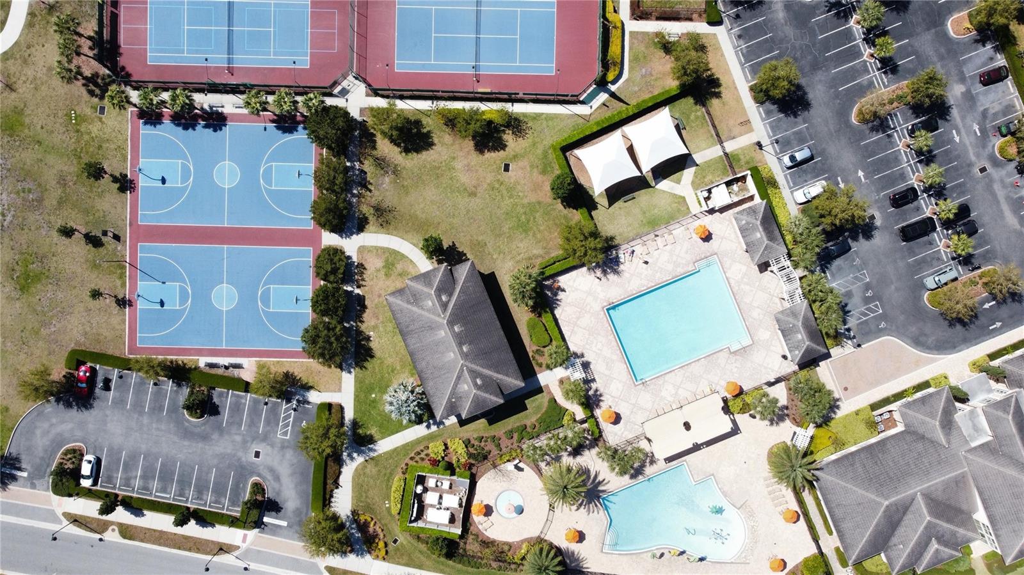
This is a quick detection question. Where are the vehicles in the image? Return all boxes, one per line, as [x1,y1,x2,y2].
[934,203,974,227]
[975,65,1010,87]
[885,187,918,208]
[816,235,852,259]
[943,218,978,240]
[100,375,111,391]
[74,363,94,396]
[903,115,939,138]
[969,265,983,272]
[779,146,814,169]
[82,454,100,486]
[896,216,935,241]
[792,179,828,203]
[921,264,960,288]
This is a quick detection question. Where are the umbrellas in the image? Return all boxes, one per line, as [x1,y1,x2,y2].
[782,507,798,523]
[564,526,580,543]
[470,501,485,517]
[693,222,709,238]
[723,379,739,395]
[600,409,615,424]
[769,555,785,572]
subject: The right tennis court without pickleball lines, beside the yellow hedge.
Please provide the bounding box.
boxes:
[358,0,600,98]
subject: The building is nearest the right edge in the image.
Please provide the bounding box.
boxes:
[808,348,1024,575]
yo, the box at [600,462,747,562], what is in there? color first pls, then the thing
white swimming pool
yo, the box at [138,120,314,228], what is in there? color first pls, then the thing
blue basketball court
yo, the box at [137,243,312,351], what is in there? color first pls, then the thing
blue basketball court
